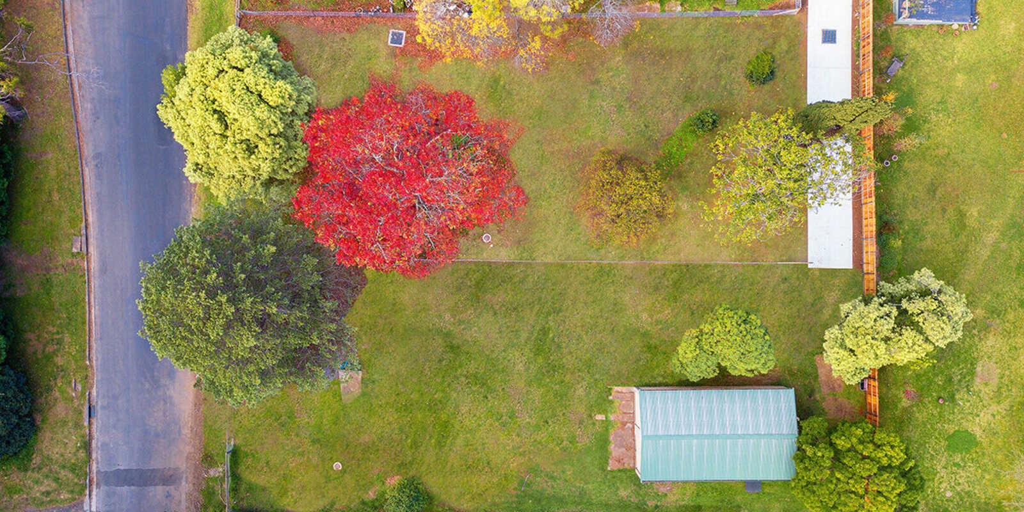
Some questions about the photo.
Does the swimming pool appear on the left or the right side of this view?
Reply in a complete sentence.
You can find the swimming pool on the right side of the picture.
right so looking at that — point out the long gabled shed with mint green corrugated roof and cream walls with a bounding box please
[634,386,801,482]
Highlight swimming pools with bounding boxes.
[894,0,979,24]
